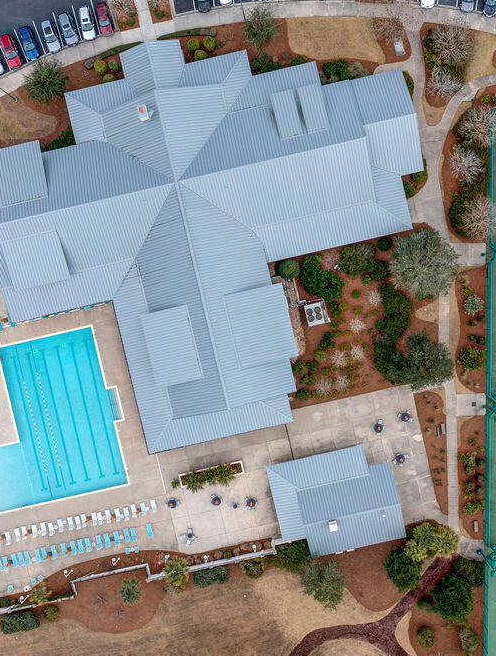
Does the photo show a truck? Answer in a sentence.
No, there's no truck here.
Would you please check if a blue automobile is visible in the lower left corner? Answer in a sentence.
No, I see no blue automobile in the lower left corner.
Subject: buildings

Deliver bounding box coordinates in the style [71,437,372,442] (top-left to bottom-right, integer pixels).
[0,40,424,455]
[266,445,406,557]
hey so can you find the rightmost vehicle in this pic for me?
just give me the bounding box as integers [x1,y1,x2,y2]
[481,0,496,19]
